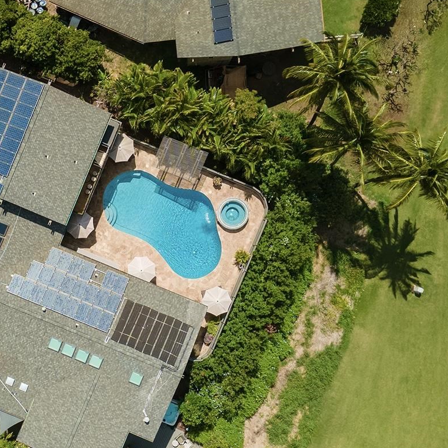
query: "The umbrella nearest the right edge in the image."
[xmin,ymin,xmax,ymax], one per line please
[202,287,229,315]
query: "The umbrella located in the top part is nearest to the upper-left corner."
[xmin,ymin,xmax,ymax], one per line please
[109,134,135,163]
